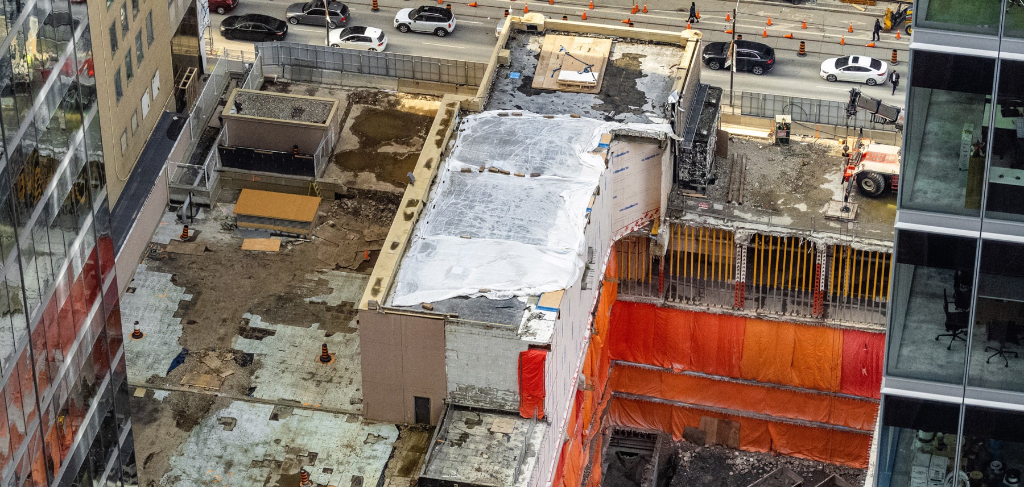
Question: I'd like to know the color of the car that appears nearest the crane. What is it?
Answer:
white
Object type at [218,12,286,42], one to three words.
car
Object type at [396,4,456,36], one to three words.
car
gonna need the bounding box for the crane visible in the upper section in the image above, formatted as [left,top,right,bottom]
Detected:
[841,73,917,212]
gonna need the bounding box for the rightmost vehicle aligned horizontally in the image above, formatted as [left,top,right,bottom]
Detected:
[821,54,888,86]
